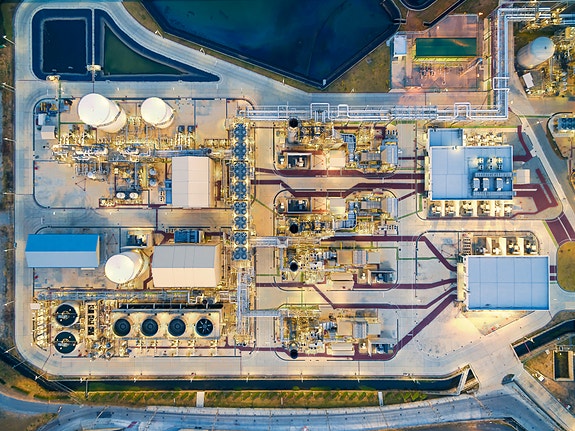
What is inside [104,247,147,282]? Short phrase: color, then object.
white storage tank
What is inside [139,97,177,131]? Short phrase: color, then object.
white storage tank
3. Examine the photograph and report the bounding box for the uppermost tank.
[514,36,556,72]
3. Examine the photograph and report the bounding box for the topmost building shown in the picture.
[393,35,407,60]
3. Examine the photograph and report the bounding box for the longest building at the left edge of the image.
[21,233,103,267]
